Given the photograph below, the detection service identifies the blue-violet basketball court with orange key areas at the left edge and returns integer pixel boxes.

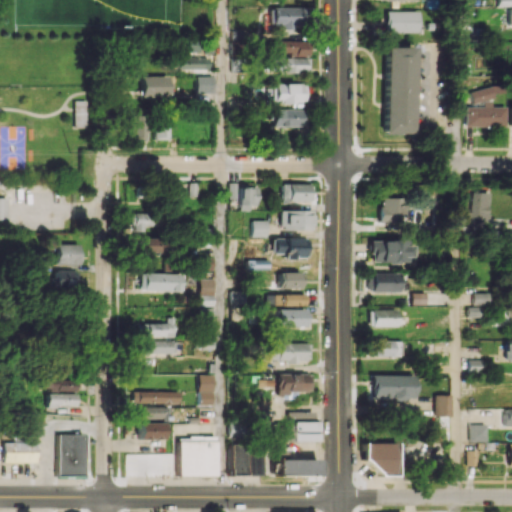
[0,125,27,173]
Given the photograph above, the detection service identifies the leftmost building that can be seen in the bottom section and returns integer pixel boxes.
[4,442,41,465]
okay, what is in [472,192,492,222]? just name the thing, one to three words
house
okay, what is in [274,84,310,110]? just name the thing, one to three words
house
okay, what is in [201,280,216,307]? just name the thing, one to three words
building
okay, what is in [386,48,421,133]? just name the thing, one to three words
building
